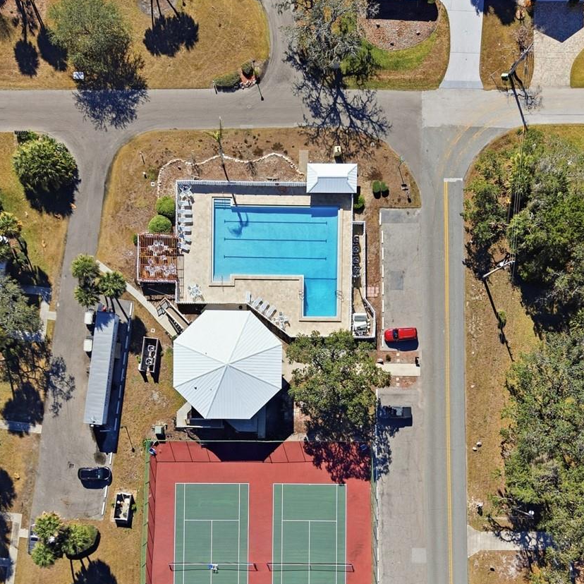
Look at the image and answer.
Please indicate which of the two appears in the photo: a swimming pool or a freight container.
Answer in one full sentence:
Of the two, only a swimming pool appears.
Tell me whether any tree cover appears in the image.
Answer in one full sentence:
Yes, there's tree cover in this view.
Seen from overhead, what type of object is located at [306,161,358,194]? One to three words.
shed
